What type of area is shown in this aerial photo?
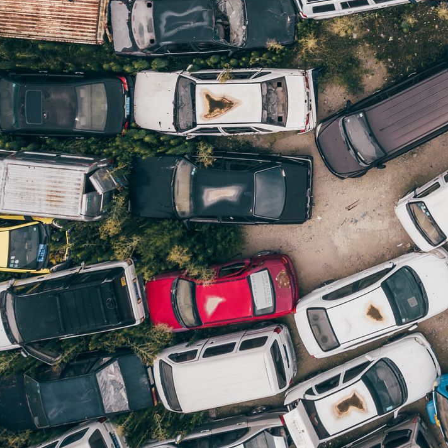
parking lot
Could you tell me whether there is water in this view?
No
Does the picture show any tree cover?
No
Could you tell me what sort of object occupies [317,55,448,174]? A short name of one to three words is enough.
car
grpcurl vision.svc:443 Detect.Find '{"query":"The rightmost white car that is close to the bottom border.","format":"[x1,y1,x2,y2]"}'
[271,332,443,448]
